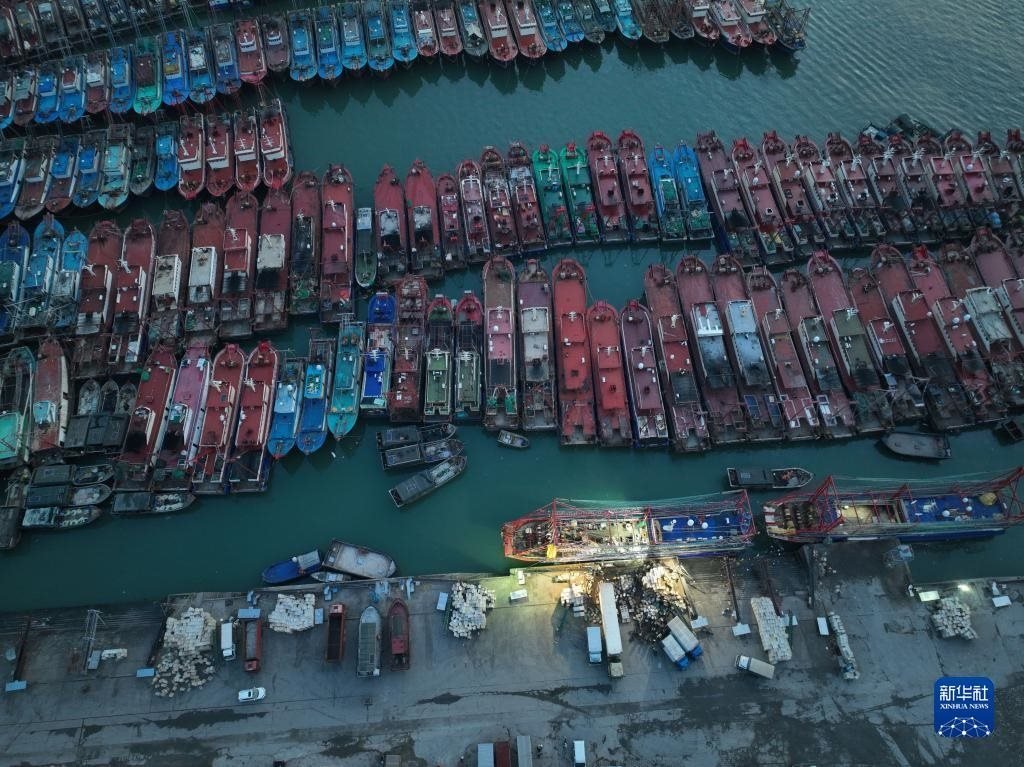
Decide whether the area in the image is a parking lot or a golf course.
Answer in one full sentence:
This looks like a parking lot.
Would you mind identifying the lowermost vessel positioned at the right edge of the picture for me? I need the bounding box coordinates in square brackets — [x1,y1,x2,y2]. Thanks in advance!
[764,459,1024,547]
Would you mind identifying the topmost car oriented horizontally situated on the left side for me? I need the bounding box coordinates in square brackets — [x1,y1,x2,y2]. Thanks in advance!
[237,685,268,702]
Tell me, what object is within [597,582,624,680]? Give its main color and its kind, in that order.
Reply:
white truck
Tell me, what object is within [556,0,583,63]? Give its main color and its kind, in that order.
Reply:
blue boat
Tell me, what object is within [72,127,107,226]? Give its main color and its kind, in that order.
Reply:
blue boat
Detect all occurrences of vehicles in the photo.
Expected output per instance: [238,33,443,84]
[732,651,777,679]
[382,752,401,767]
[659,628,690,672]
[219,618,241,664]
[477,741,495,767]
[237,685,268,702]
[515,734,533,767]
[667,613,703,662]
[586,626,603,667]
[571,740,587,767]
[325,604,347,662]
[597,582,624,680]
[240,619,265,674]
